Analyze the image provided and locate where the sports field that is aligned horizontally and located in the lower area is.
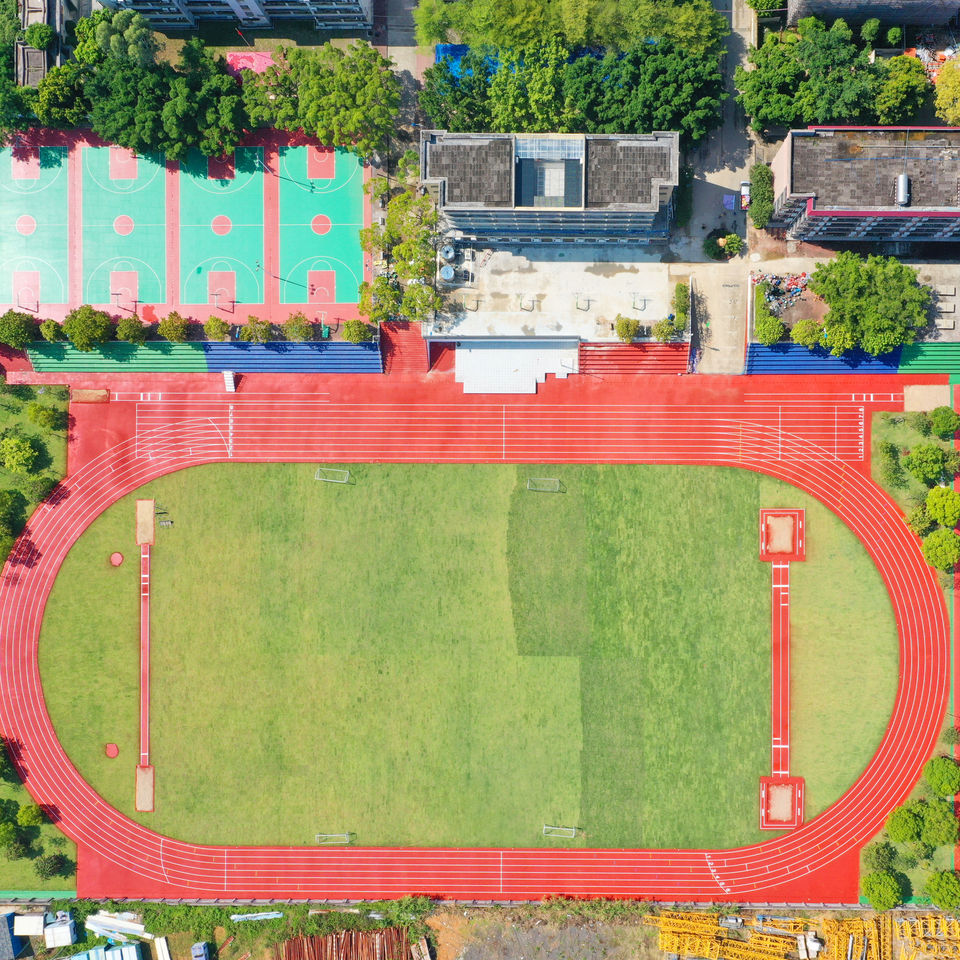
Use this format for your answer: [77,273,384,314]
[39,462,899,848]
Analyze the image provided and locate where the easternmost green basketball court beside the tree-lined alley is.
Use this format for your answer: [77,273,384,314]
[279,146,364,304]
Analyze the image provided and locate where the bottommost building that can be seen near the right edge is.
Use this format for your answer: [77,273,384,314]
[761,125,960,243]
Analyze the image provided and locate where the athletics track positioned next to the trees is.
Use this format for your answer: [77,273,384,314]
[0,374,948,902]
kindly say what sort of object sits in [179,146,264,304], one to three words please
basketball court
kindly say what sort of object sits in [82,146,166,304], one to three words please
basketball court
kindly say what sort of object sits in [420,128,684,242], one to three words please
building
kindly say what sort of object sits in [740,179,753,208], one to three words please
vehicle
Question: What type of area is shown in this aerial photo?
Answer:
sports ground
